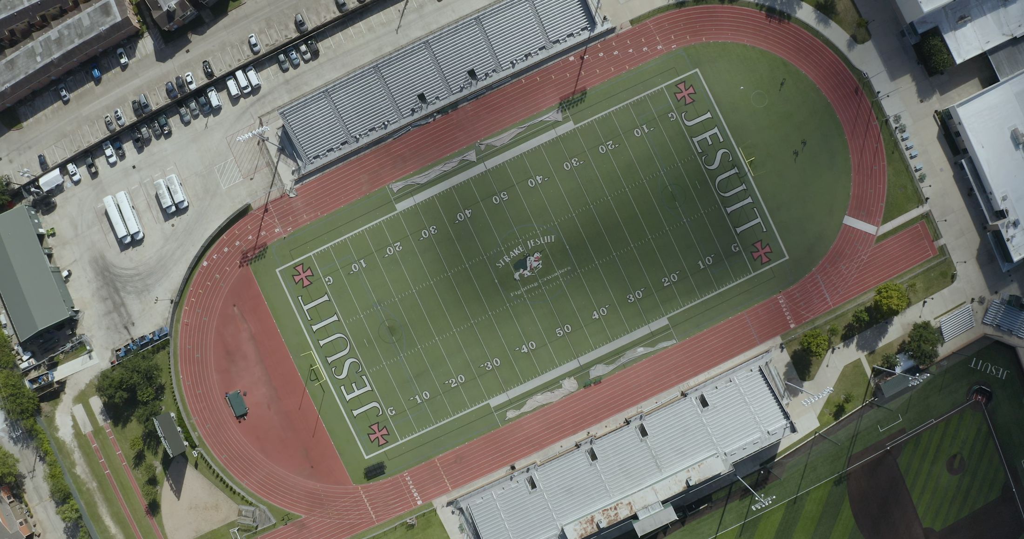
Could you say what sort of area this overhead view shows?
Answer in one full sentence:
This looks like a sports ground.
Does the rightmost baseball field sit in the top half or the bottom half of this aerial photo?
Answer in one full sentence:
The bottom half of the photo is where the rightmost baseball field is.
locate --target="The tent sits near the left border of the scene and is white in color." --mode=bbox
[39,168,70,192]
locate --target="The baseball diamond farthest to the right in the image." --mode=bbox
[584,336,1024,539]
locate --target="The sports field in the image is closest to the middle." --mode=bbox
[248,41,852,485]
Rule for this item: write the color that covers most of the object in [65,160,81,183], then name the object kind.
white car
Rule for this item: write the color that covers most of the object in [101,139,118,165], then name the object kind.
white vehicle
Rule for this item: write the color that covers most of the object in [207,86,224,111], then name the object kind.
white vehicle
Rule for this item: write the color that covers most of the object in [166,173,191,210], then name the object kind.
white bus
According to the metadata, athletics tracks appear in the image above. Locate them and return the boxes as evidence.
[176,5,939,539]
